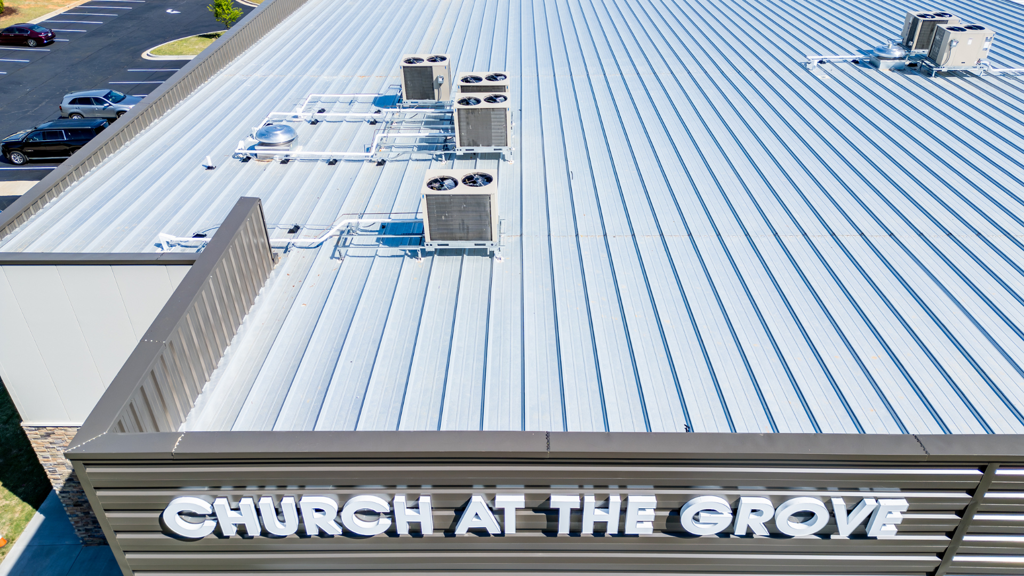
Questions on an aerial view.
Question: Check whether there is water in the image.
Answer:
No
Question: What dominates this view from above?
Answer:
buildings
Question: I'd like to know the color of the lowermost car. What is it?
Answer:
black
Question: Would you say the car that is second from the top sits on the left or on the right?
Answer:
left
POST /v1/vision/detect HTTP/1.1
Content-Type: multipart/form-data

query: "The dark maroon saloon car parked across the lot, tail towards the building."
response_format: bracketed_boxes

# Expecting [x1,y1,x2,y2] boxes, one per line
[0,24,55,46]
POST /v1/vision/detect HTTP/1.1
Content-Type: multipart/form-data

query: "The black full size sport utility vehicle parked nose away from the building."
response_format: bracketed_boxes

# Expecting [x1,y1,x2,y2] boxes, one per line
[0,119,108,163]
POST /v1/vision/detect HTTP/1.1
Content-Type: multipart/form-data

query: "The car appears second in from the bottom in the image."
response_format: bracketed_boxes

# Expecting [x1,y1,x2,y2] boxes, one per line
[61,91,140,120]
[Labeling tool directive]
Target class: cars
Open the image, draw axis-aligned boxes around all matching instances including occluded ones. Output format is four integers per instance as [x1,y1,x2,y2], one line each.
[0,119,108,163]
[0,24,55,46]
[61,91,140,120]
